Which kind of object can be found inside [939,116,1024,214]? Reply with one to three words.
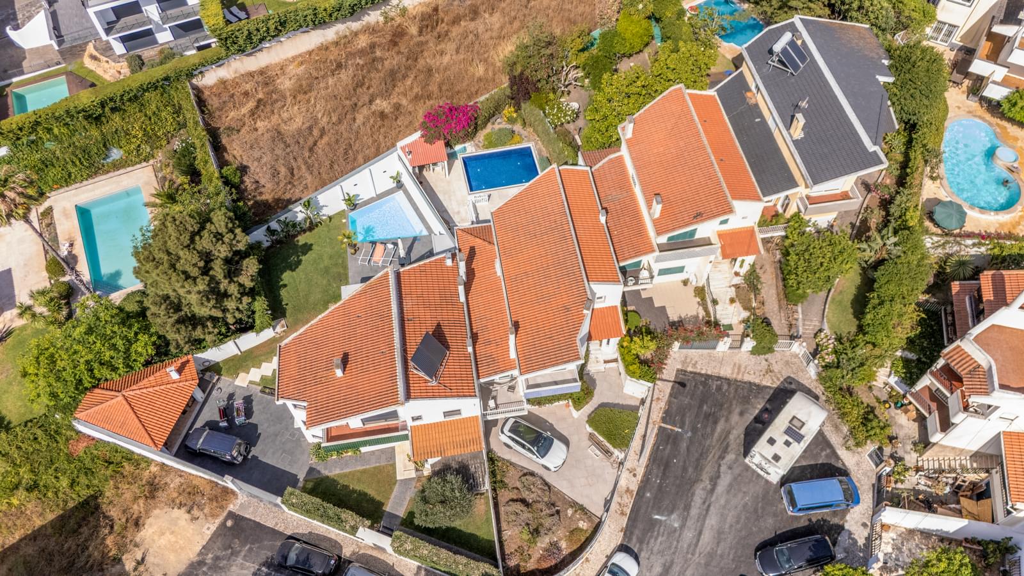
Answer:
swimming pool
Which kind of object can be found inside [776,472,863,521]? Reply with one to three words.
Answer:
van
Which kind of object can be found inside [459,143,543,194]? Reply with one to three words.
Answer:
swimming pool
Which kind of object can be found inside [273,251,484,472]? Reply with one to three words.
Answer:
house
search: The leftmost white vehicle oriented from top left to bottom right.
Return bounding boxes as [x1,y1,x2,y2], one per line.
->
[496,414,568,472]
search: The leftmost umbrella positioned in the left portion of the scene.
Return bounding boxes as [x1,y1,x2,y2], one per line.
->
[396,238,410,269]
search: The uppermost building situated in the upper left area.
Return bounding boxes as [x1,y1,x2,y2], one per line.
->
[85,0,211,56]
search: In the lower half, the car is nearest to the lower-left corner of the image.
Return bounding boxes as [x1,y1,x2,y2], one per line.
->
[181,424,252,469]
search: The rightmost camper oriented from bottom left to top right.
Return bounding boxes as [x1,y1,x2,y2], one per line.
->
[739,392,829,486]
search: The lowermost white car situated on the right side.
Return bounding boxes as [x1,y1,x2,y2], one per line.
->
[592,546,641,576]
